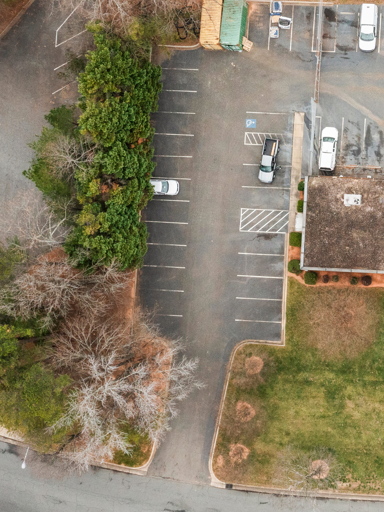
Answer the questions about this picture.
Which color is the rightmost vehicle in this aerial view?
white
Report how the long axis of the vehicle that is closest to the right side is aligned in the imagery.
from top to bottom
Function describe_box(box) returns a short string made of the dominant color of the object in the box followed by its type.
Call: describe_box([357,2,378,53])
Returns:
white vehicle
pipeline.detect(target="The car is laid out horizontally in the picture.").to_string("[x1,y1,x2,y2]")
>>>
[140,178,179,197]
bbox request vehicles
[318,127,338,173]
[357,2,378,53]
[140,178,179,197]
[257,138,283,183]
